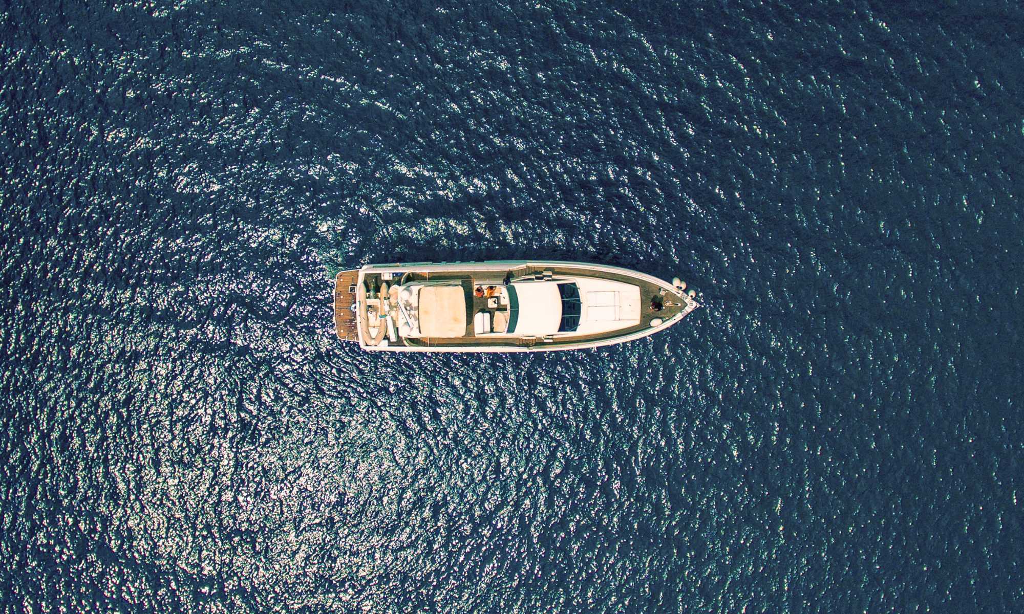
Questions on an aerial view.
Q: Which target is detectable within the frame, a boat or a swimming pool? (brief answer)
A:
boat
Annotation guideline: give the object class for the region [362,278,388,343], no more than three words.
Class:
boat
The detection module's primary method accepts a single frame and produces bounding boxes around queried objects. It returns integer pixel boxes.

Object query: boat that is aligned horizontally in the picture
[336,261,705,352]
